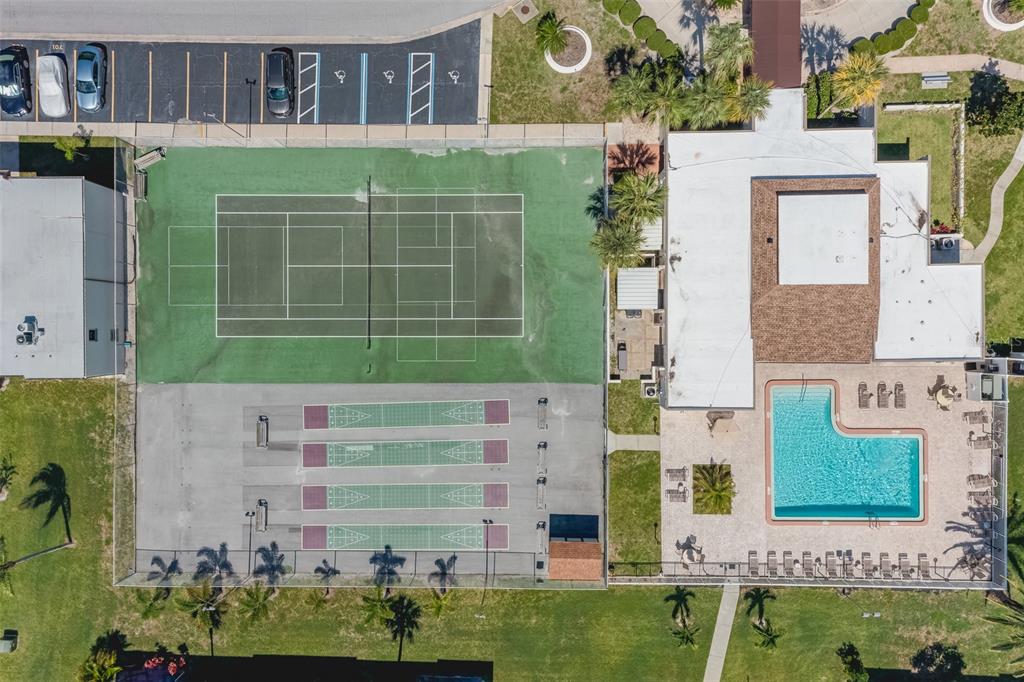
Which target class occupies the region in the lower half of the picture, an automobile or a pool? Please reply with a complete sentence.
It is a pool that can be seen in the lower half of the picture.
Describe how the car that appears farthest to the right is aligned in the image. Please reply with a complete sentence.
What the image shows is the car that appears farthest to the right lying vertically.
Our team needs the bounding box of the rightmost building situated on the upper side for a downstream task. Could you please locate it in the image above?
[660,88,983,408]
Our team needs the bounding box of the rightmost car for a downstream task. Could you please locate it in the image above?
[264,48,296,112]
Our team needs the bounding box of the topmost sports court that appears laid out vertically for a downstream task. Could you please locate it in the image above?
[397,188,476,361]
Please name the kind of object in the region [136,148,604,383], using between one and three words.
tennis court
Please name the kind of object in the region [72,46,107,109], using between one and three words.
car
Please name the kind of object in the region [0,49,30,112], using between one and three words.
car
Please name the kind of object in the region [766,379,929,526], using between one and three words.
swimming pool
